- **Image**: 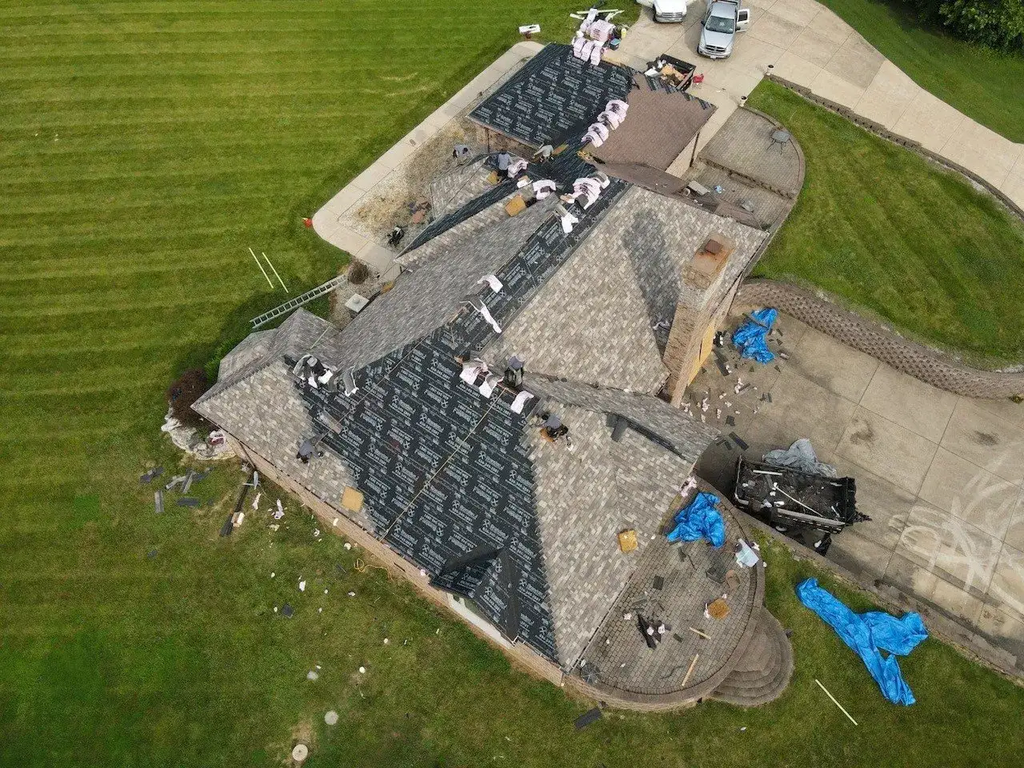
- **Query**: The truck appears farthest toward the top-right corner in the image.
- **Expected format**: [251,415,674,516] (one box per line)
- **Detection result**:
[701,0,758,58]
